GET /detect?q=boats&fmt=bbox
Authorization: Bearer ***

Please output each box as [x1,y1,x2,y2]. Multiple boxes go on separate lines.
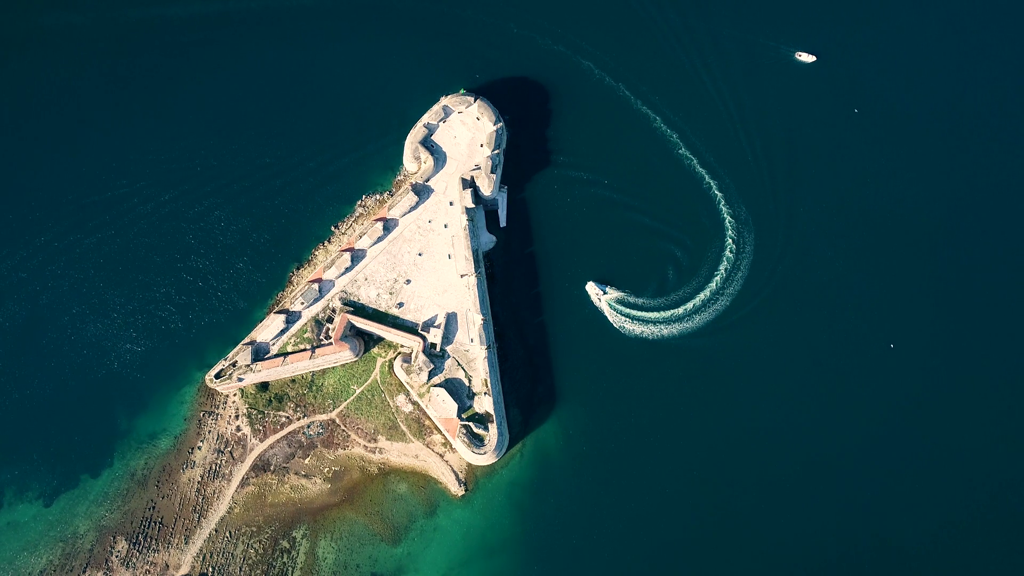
[794,51,817,61]
[585,282,606,299]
